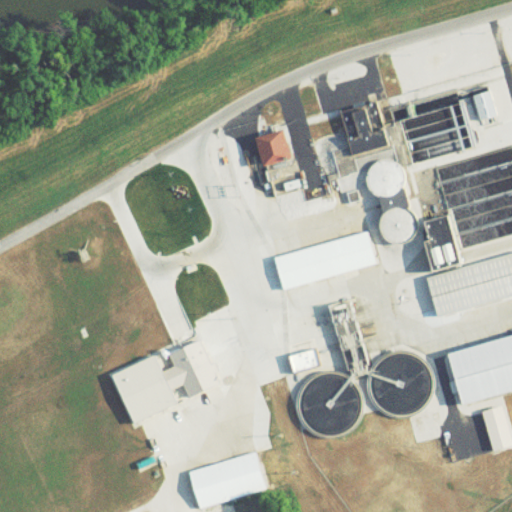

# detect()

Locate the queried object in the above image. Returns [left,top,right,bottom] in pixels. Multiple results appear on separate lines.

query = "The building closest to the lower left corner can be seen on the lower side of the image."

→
[111,354,179,424]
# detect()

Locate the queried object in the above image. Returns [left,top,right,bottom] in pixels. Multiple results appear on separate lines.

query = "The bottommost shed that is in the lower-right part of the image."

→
[483,406,512,452]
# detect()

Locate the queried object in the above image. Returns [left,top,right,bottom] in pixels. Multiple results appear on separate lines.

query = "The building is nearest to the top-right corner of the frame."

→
[474,91,498,120]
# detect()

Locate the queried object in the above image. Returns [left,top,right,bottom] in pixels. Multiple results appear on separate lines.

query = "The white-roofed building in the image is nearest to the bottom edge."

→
[190,452,268,509]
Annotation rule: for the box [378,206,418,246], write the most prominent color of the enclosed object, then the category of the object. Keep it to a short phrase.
white storage tank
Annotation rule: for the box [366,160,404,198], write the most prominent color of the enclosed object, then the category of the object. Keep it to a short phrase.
white storage tank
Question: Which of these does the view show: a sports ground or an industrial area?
industrial area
